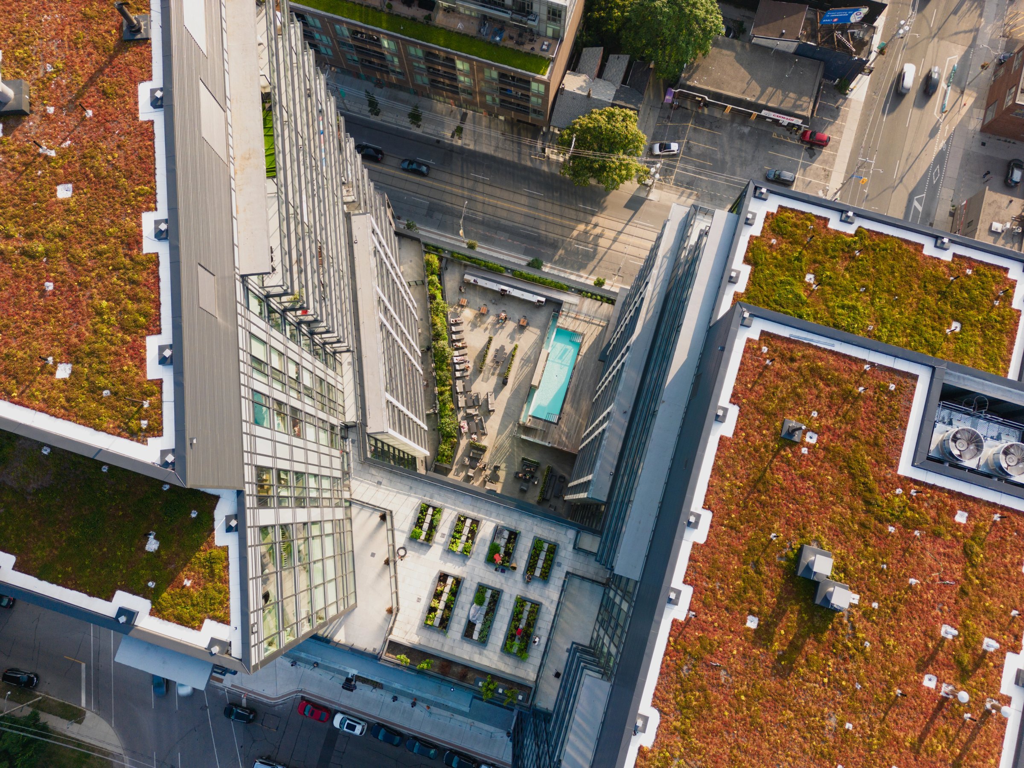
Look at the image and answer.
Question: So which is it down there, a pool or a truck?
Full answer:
The image shows a pool.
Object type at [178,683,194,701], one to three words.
car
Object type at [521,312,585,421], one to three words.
swimming pool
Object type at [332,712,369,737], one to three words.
car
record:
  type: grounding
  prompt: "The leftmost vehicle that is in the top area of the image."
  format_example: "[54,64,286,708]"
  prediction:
[355,143,386,162]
